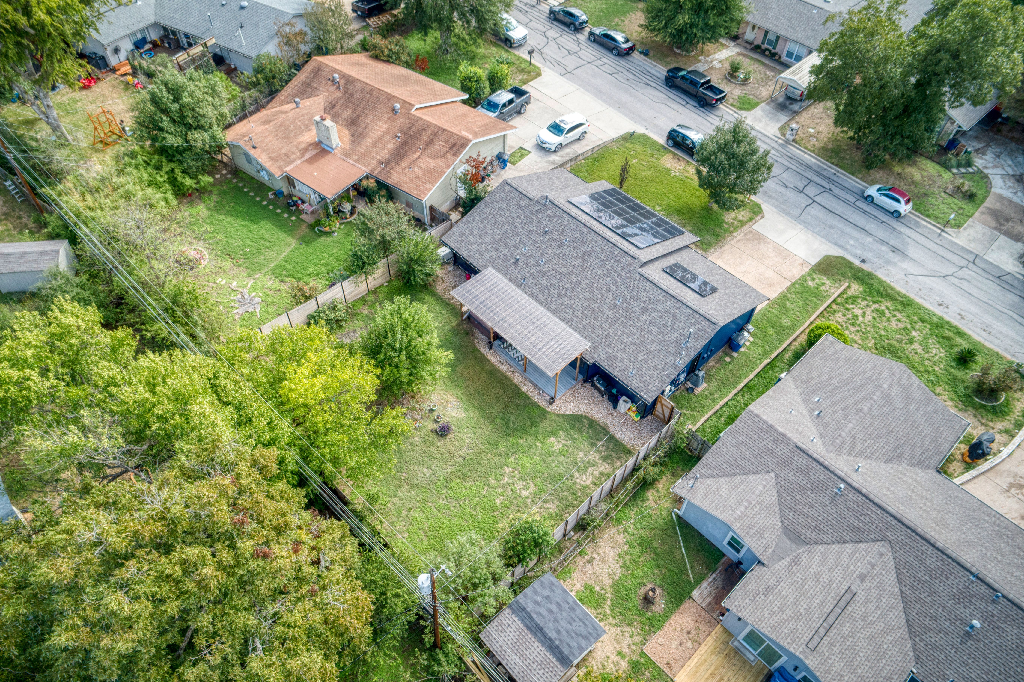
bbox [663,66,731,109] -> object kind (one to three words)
truck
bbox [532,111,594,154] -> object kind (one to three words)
car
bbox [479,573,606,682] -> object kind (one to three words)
shed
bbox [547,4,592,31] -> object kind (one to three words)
car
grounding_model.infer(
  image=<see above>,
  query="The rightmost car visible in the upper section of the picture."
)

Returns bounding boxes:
[864,183,922,220]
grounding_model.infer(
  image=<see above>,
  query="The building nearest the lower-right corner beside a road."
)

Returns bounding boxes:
[670,333,1024,682]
